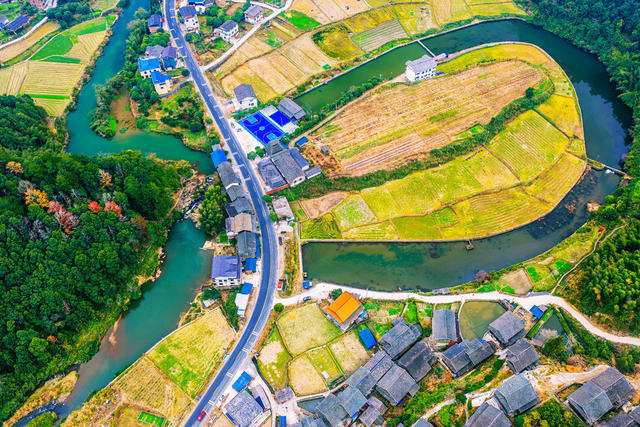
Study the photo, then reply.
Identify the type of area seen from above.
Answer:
residential area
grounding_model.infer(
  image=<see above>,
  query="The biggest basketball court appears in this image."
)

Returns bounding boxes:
[238,111,286,145]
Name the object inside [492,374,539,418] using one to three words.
house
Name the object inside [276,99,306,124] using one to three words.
shed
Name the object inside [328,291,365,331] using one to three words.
house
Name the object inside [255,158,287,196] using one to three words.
building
